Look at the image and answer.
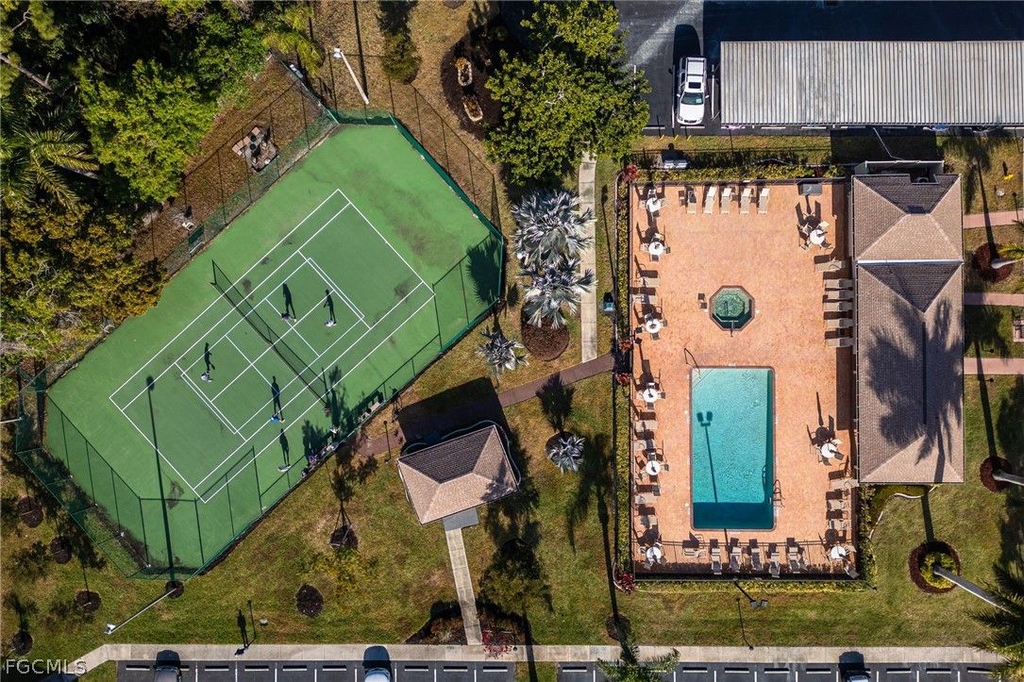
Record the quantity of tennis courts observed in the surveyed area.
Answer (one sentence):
The picture shows just 1 tennis court.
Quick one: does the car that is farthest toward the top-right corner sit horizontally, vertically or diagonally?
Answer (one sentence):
The car that is farthest toward the top-right corner is oriented vertically.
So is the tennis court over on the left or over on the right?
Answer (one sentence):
The tennis court appears in the left half of the scene.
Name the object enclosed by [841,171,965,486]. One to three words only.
building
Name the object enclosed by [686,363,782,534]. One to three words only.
swimming pool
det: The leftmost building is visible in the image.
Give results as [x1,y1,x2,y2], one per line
[395,424,520,525]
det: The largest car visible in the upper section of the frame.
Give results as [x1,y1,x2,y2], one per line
[677,59,710,124]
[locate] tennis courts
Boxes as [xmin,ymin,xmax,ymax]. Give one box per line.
[46,126,500,571]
